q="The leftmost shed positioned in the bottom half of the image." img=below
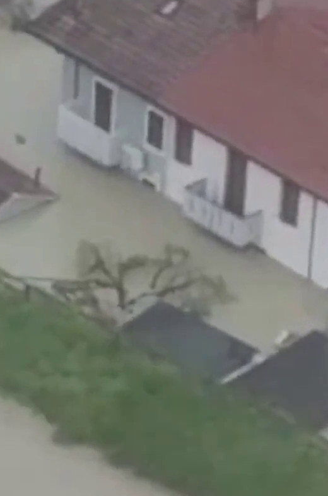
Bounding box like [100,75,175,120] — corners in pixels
[109,299,257,391]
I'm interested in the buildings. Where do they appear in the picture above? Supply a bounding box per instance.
[109,299,257,391]
[0,162,59,236]
[22,0,328,286]
[218,329,328,446]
